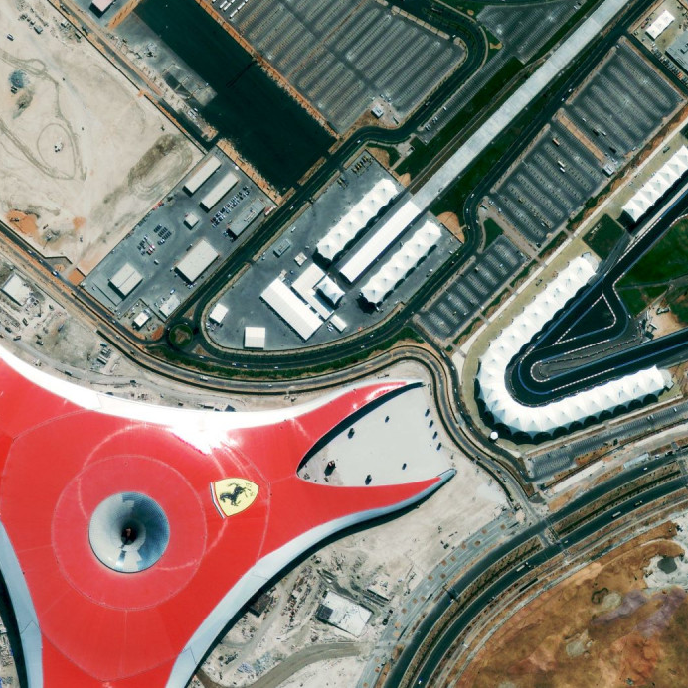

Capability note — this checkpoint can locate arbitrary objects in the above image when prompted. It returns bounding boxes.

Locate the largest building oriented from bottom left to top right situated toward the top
[338,199,421,283]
